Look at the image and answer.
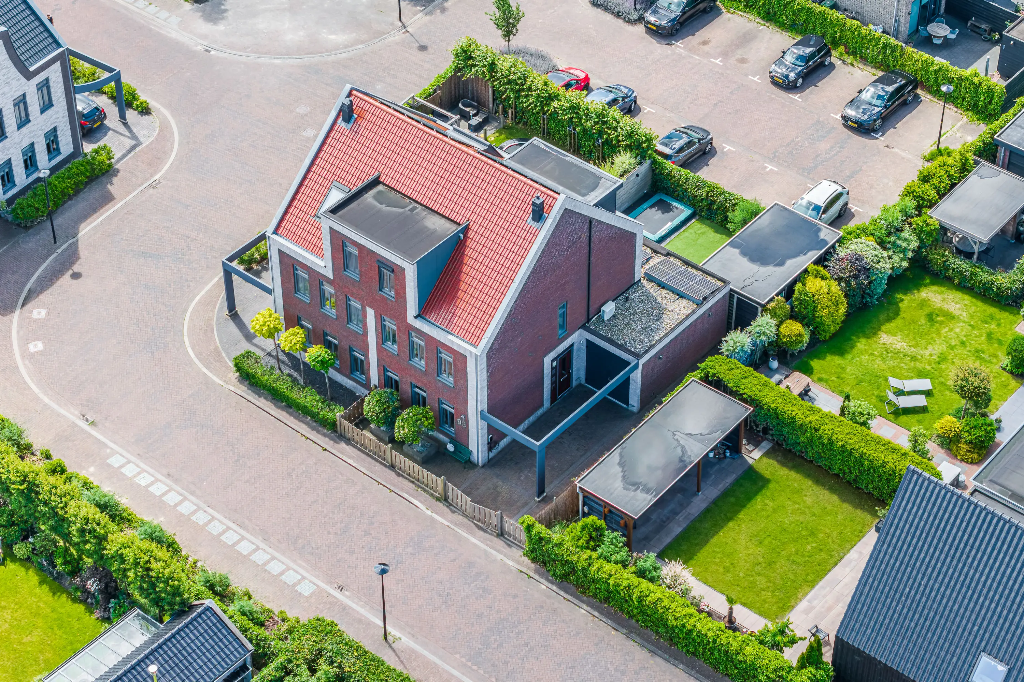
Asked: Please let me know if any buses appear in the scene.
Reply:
No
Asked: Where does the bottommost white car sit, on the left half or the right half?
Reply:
right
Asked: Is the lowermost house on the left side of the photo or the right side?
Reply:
left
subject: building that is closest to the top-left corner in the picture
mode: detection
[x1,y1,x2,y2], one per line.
[0,0,128,204]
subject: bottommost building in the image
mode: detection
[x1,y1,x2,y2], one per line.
[35,592,258,682]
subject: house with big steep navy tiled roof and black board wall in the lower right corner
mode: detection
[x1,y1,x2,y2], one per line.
[834,458,1024,682]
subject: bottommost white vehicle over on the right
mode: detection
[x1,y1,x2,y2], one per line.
[785,180,851,225]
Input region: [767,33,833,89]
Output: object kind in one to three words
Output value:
car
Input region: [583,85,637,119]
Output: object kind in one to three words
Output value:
car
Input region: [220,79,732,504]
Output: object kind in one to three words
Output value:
house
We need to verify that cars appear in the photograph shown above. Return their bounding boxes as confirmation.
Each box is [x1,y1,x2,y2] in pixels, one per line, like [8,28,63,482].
[654,127,713,177]
[537,65,589,97]
[642,0,717,39]
[841,70,921,136]
[583,85,637,119]
[785,180,851,225]
[74,92,110,133]
[767,33,833,89]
